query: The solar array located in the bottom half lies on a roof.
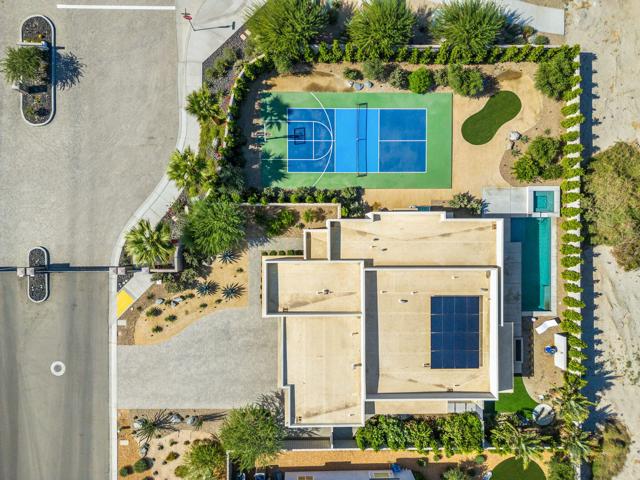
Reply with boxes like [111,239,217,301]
[430,296,482,368]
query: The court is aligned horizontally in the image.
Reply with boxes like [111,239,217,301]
[258,92,452,188]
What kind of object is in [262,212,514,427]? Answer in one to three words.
house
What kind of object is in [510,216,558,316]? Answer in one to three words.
swimming pool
